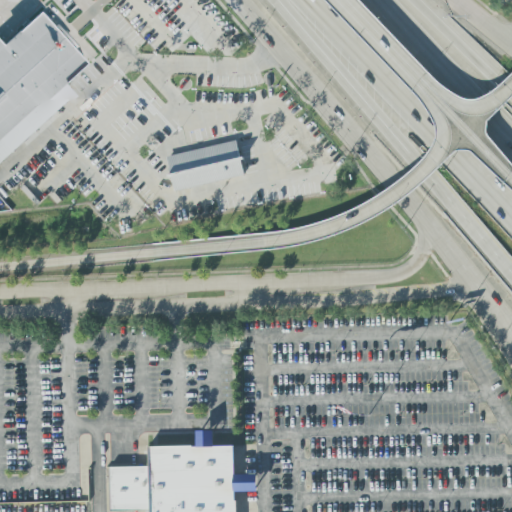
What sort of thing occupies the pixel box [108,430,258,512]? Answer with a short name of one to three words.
building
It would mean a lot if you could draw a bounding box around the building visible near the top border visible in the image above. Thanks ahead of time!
[0,0,90,166]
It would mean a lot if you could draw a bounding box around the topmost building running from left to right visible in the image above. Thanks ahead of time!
[168,141,248,190]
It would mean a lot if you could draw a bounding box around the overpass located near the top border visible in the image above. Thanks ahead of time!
[326,0,512,190]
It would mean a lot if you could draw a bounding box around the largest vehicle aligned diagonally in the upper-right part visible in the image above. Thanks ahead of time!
[404,128,424,150]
